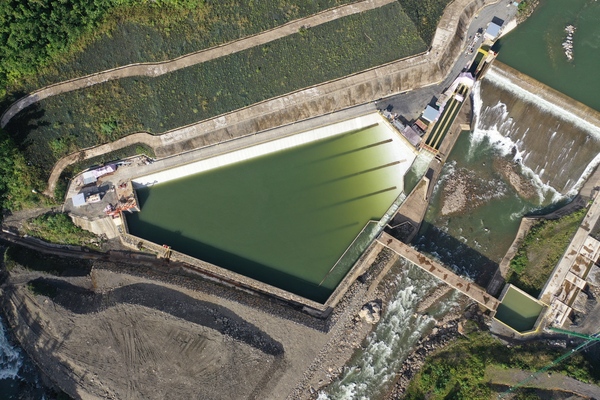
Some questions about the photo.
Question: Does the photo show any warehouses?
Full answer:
No, no warehouse is visible in the view.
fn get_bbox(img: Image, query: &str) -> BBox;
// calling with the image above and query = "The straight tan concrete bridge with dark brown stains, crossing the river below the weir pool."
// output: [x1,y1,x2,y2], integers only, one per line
[374,230,503,314]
